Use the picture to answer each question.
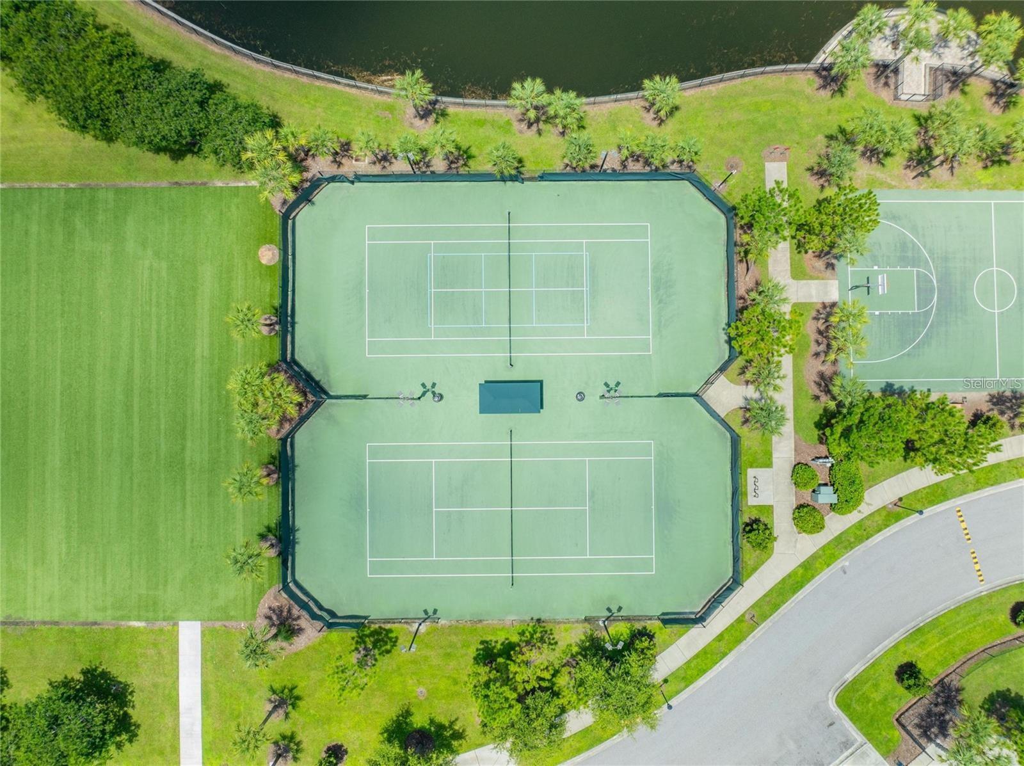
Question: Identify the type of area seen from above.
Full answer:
What you see here is a sports ground.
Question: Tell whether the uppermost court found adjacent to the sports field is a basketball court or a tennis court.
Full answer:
The uppermost court found adjacent to the sports field in the image is a tennis court.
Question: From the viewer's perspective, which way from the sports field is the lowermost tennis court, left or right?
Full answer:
In the image, the lowermost tennis court sits on the right side of the sports field.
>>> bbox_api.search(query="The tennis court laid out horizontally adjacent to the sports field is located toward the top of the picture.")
[292,183,725,398]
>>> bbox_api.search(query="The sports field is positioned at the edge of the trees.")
[0,186,280,621]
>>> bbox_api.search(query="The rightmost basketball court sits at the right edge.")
[837,190,1024,392]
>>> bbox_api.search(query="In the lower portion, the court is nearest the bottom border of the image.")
[292,397,730,619]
